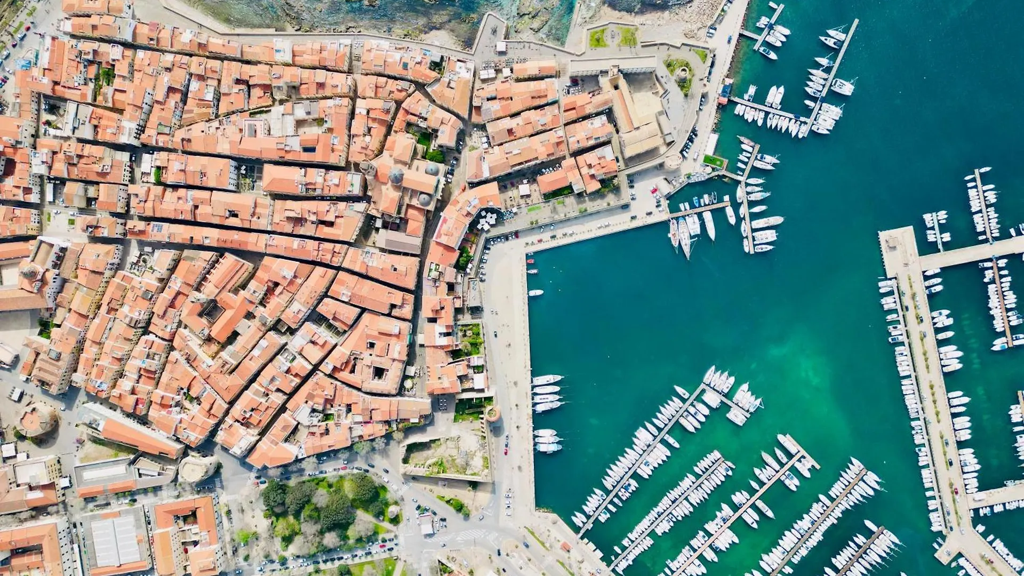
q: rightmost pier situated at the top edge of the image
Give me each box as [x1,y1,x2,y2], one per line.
[803,16,859,137]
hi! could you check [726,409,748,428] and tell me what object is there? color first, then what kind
white boat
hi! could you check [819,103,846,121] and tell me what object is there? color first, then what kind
white boat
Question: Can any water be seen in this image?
Yes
